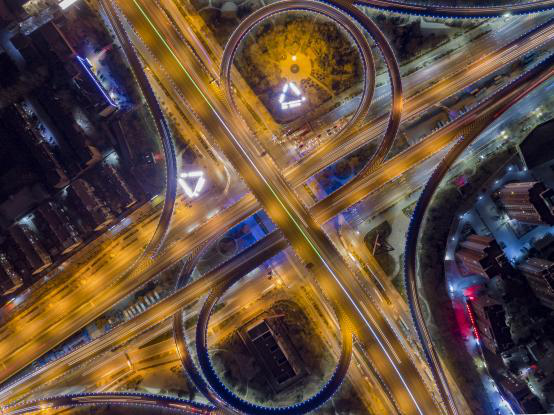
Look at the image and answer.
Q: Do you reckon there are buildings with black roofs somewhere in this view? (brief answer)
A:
Yes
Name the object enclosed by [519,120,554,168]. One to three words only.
building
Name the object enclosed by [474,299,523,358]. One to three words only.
building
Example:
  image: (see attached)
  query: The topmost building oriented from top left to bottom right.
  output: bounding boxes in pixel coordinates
[30,15,75,58]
